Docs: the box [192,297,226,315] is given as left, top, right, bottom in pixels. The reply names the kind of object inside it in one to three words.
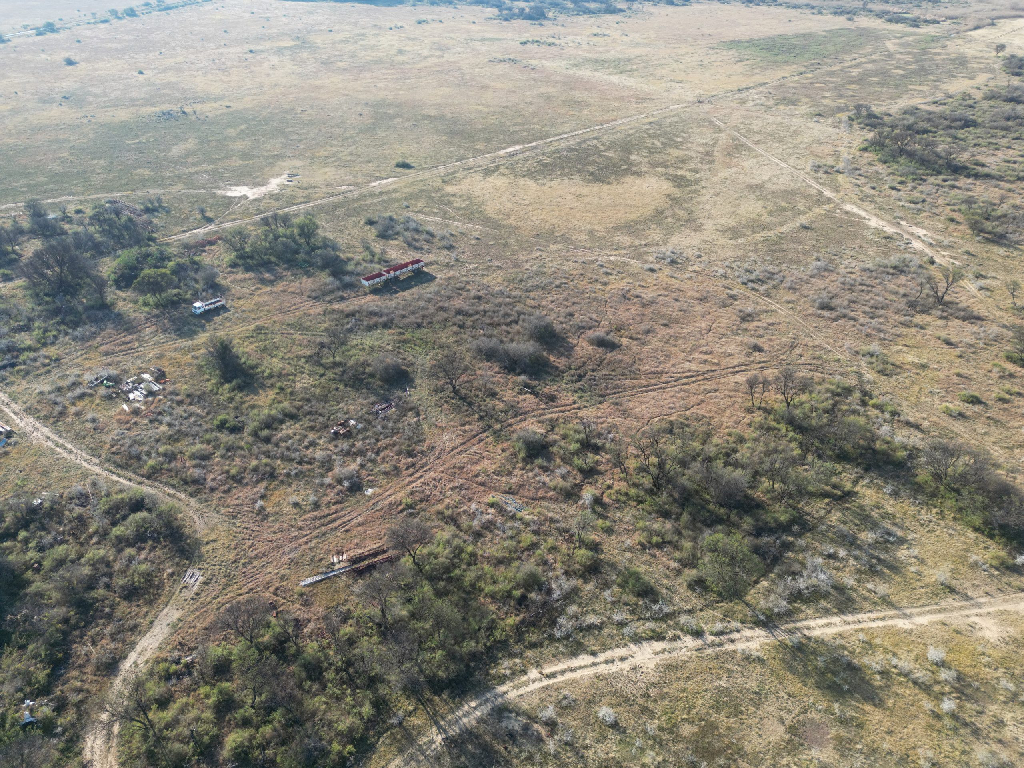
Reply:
vehicle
